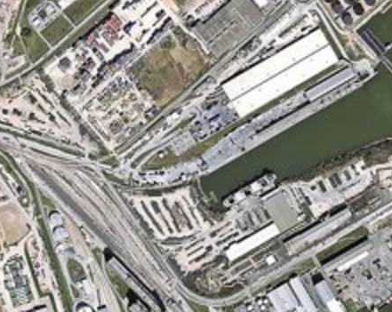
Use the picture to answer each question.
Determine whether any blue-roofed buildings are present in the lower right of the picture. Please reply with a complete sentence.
No, the scene shows no blue-roofed building in the lower right of the picture.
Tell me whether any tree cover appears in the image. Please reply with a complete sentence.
No, the picture contains no tree cover.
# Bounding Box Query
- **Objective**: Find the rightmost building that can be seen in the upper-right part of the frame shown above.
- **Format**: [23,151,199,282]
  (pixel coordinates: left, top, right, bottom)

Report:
[306,58,372,102]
